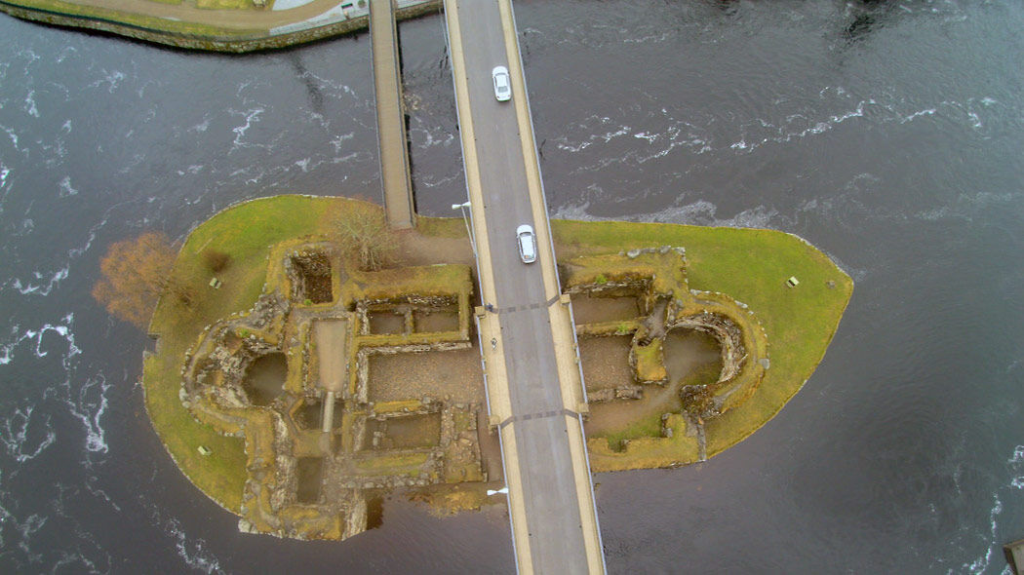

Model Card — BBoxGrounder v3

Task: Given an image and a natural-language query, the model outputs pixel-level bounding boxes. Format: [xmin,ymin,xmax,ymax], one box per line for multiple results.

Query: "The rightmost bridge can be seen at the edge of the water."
[444,0,607,575]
